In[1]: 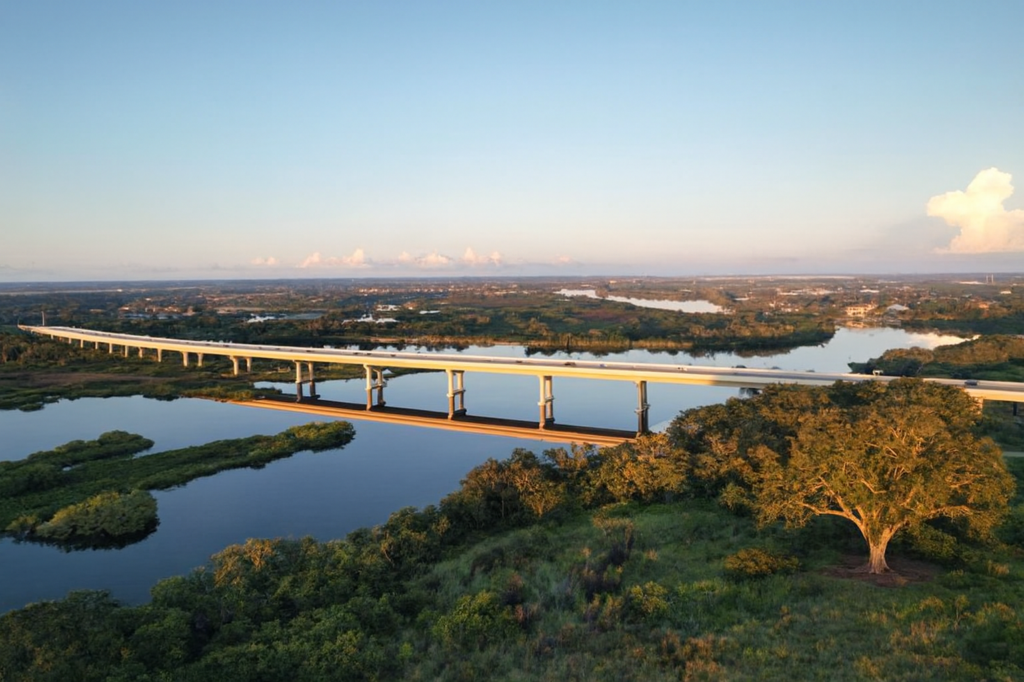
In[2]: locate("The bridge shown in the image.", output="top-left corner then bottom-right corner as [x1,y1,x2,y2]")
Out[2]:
[23,326,1024,410]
